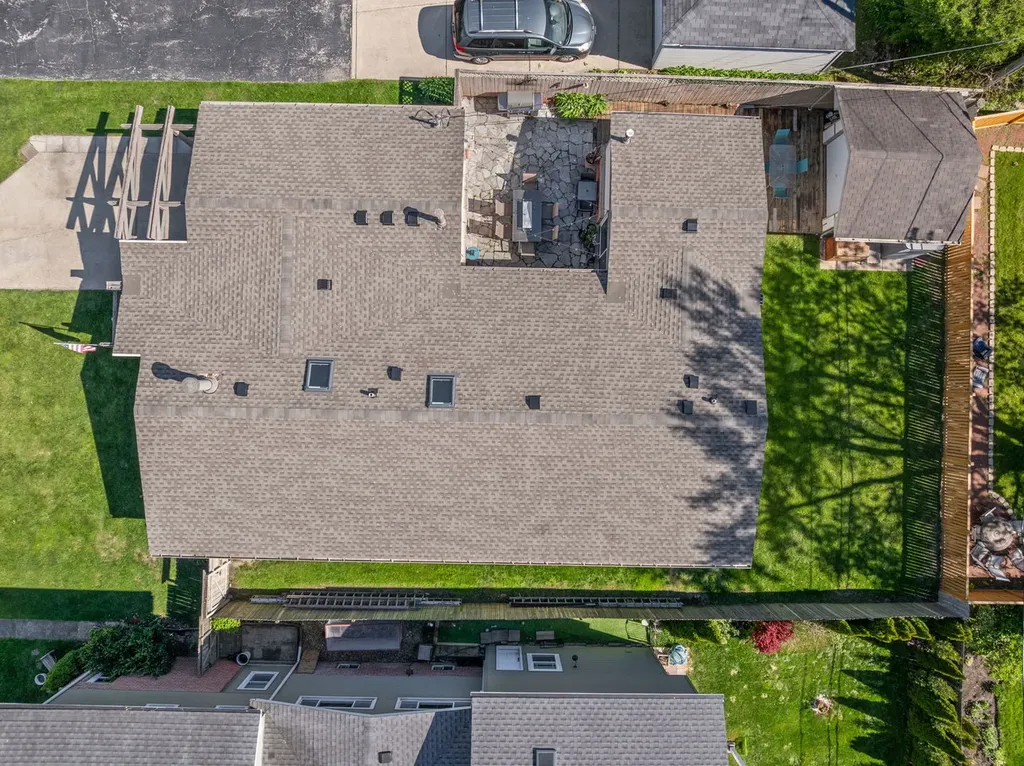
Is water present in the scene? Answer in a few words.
No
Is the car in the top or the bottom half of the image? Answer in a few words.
top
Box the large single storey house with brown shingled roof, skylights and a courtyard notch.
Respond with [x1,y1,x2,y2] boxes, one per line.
[108,99,769,571]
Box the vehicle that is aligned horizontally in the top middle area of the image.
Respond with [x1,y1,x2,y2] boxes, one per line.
[452,0,596,62]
